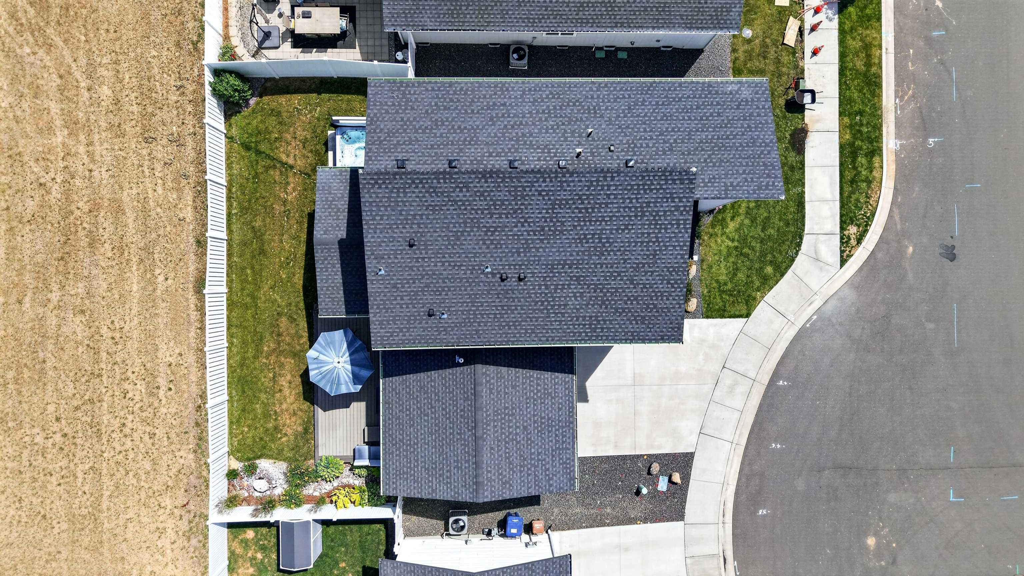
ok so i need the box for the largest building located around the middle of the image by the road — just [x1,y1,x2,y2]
[314,77,784,502]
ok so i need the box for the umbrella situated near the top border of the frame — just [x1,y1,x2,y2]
[250,2,281,49]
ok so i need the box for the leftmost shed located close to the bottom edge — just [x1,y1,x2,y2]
[280,520,322,572]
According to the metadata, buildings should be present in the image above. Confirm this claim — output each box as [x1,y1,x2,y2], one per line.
[377,527,573,576]
[383,0,742,53]
[280,520,322,572]
[314,77,784,502]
